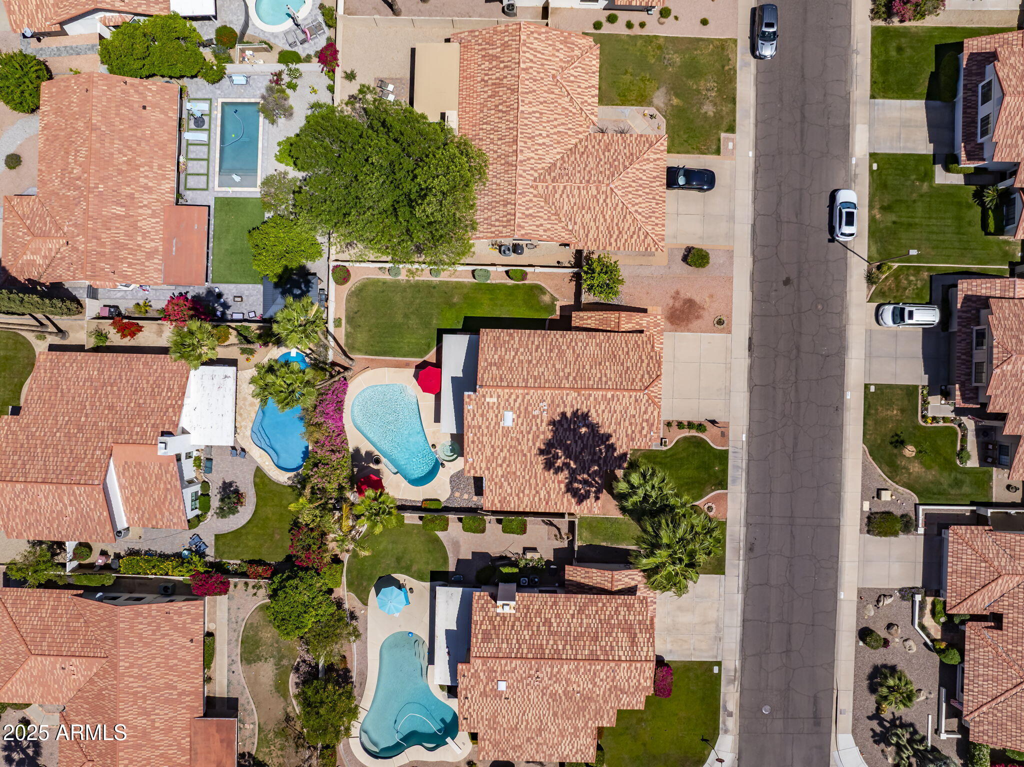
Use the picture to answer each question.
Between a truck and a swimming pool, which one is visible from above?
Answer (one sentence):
There is a swimming pool in the scene.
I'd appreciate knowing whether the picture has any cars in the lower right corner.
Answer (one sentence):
No, no car appears in the lower right corner.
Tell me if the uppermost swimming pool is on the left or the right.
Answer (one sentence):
The uppermost swimming pool is on the left side of the image.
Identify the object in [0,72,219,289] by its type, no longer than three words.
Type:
house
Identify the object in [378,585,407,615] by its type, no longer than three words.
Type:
umbrella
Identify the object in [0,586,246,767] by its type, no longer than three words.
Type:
house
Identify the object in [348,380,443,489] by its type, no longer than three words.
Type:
swimming pool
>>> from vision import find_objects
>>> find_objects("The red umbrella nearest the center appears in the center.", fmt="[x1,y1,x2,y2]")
[416,366,442,394]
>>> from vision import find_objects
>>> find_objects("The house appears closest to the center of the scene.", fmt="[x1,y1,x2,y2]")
[440,312,665,514]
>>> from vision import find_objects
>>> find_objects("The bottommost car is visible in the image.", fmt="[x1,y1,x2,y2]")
[875,303,940,329]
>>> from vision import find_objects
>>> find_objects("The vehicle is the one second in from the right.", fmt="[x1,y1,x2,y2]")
[832,189,859,242]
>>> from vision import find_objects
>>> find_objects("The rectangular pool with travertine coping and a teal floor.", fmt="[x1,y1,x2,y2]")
[213,98,264,192]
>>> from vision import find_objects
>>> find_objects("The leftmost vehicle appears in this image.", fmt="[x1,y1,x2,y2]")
[666,166,715,192]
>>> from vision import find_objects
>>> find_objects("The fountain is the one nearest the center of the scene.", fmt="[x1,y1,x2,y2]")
[438,440,460,462]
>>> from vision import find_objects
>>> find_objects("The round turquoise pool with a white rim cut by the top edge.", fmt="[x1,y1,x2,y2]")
[249,0,312,32]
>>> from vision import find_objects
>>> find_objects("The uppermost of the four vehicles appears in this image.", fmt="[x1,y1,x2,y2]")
[752,3,779,61]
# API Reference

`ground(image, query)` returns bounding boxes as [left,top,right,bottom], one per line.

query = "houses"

[0,586,246,767]
[936,525,1024,754]
[0,352,245,544]
[434,565,660,763]
[944,277,1024,481]
[950,30,1024,238]
[0,72,219,289]
[414,22,669,252]
[3,0,222,34]
[440,312,665,514]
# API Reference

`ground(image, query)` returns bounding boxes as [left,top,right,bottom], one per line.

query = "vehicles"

[666,166,715,192]
[752,3,779,61]
[875,303,940,329]
[832,189,859,242]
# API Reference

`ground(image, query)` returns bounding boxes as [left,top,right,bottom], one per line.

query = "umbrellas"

[190,110,204,128]
[356,472,384,499]
[378,585,407,615]
[416,366,442,394]
[287,6,309,35]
